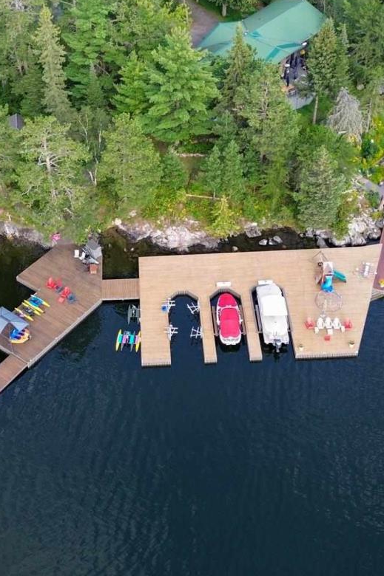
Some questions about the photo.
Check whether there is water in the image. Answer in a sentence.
Yes, some water is visible.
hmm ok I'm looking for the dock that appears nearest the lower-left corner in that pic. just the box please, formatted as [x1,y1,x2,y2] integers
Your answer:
[0,242,103,366]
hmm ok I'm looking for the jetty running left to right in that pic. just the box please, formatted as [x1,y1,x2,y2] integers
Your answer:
[139,244,383,367]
